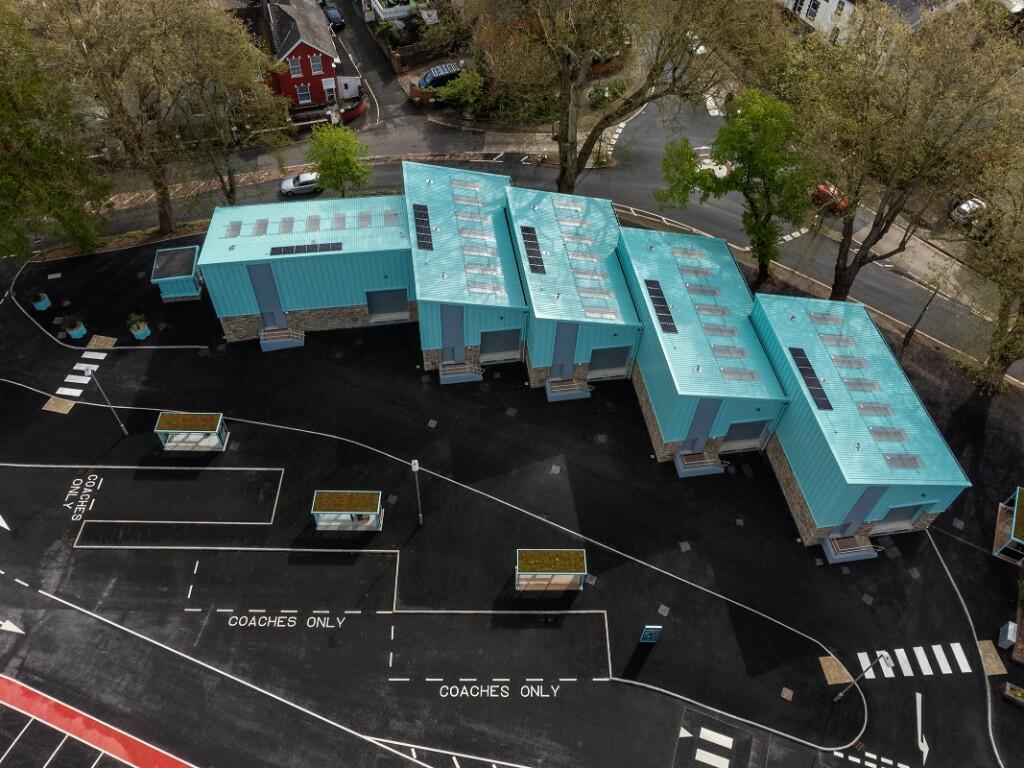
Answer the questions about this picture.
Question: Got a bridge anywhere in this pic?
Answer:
No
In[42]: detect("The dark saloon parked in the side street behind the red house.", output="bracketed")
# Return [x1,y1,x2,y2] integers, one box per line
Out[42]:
[319,0,348,24]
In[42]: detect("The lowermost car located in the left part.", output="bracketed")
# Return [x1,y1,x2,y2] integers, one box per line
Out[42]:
[278,171,325,198]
